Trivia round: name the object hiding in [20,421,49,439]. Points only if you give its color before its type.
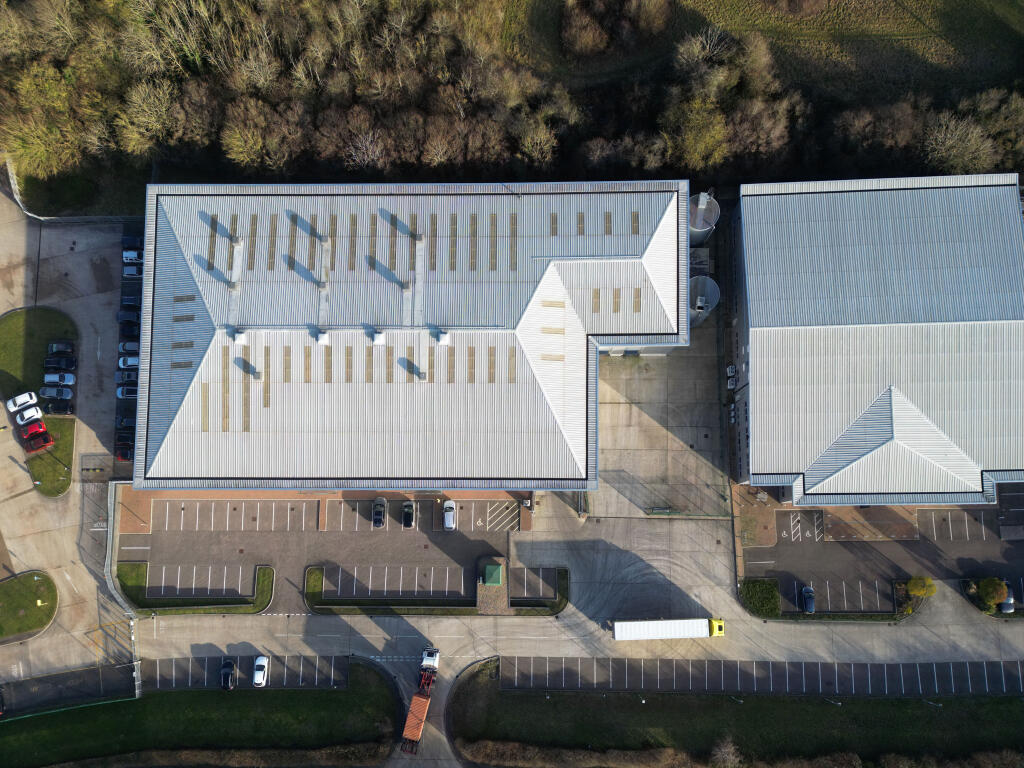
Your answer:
red car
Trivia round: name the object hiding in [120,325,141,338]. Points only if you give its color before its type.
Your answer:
black vehicle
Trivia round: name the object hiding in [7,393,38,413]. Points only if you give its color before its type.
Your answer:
white car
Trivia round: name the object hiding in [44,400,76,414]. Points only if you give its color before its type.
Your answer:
black car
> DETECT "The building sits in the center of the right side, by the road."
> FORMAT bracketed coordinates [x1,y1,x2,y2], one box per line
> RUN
[728,174,1024,505]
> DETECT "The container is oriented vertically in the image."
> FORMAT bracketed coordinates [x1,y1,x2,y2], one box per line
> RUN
[402,690,431,743]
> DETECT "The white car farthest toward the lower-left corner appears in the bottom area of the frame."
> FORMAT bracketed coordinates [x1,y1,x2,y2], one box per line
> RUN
[254,655,269,689]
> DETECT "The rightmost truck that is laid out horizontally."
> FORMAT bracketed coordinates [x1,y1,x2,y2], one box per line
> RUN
[608,612,726,641]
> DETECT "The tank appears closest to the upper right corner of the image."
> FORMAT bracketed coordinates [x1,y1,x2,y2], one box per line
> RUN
[689,193,721,242]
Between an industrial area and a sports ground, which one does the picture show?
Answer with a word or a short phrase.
industrial area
